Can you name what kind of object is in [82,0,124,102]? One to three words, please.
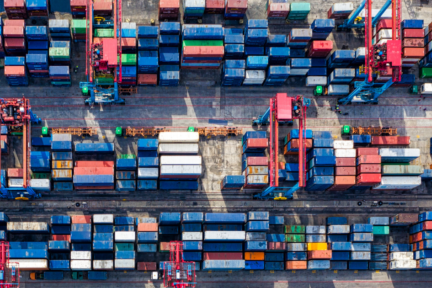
container crane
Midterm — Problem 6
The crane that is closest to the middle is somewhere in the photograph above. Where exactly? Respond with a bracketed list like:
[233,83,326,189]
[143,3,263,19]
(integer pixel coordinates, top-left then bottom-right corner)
[250,93,306,200]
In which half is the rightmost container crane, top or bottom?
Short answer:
top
